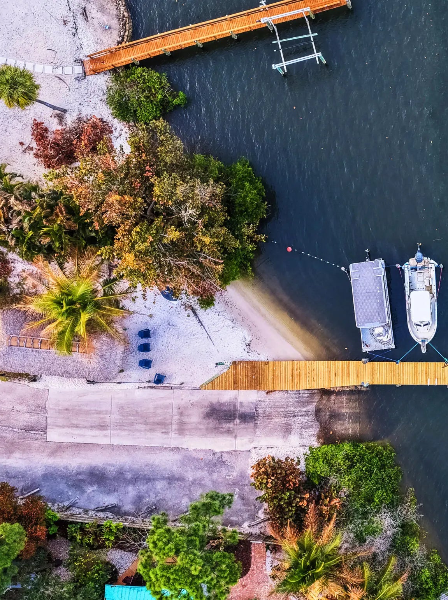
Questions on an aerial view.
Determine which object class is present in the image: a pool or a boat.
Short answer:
boat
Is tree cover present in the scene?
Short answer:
Yes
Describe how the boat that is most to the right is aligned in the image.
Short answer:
from top to bottom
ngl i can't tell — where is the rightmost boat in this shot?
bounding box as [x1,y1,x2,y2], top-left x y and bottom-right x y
[401,238,440,354]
